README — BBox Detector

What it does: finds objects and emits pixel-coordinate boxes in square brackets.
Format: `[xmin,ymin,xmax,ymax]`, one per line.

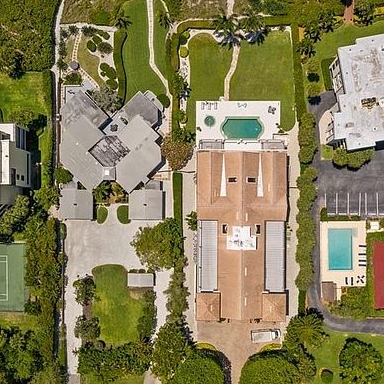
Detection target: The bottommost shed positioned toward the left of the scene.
[128,273,154,287]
